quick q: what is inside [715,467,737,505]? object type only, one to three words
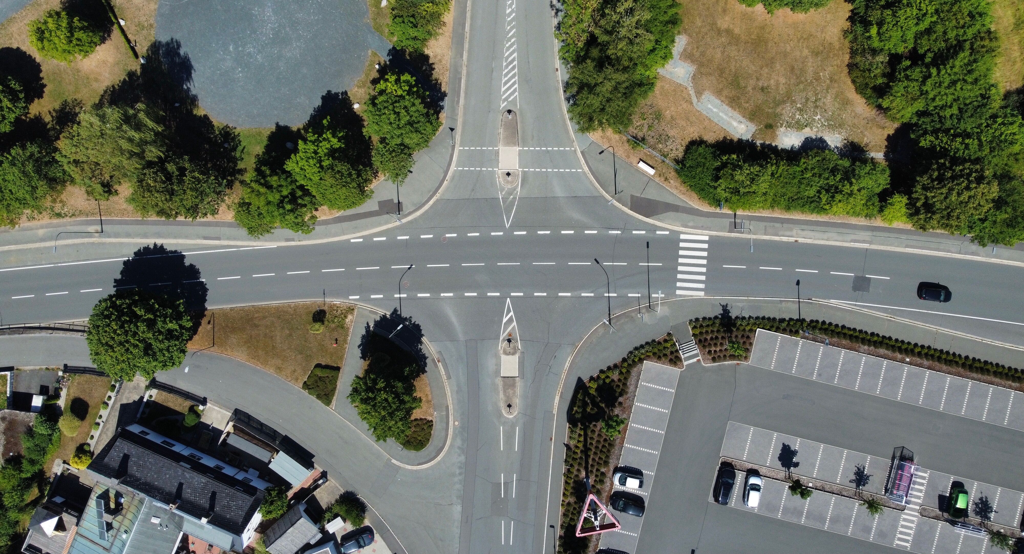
car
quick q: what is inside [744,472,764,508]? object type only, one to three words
car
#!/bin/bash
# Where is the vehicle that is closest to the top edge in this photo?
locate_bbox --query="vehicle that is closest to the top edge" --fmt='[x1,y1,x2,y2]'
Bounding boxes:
[921,287,956,306]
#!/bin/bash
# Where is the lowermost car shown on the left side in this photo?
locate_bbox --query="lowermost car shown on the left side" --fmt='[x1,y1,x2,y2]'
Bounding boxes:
[335,529,371,554]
